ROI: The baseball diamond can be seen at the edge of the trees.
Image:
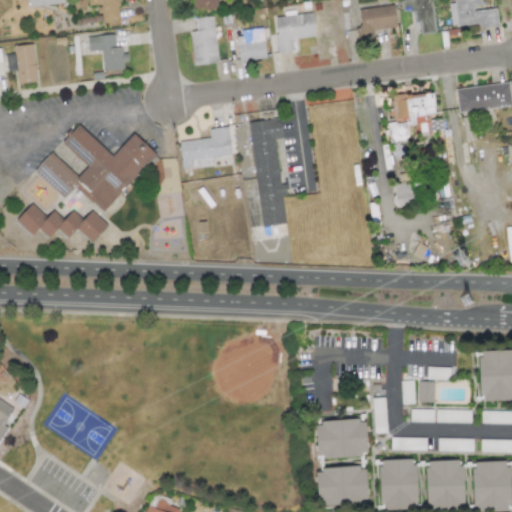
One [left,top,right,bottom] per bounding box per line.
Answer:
[214,334,278,403]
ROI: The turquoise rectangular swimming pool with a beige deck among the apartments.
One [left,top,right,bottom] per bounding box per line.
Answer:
[435,380,472,404]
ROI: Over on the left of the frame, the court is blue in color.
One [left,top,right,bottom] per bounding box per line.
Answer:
[44,394,118,458]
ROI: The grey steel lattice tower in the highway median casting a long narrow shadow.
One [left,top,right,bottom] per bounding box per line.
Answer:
[458,290,477,310]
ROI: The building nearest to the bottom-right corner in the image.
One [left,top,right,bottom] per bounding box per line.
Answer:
[474,460,512,510]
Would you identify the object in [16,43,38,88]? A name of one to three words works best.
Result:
house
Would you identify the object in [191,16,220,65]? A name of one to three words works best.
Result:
house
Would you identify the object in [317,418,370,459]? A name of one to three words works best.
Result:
building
